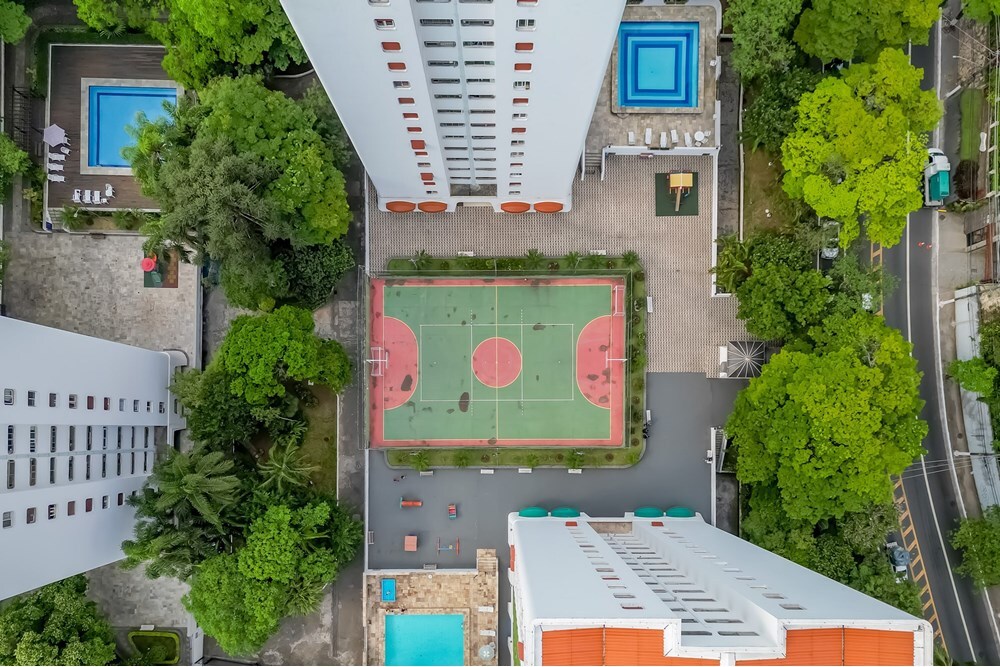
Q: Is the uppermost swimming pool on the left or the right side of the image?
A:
right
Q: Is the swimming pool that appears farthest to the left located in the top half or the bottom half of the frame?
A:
top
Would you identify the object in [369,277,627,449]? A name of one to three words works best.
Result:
sports court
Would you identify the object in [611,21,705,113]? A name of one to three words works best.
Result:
swimming pool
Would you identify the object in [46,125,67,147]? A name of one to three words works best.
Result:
umbrella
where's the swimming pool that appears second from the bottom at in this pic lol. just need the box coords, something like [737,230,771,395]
[381,578,396,601]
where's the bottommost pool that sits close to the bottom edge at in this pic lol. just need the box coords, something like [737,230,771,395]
[379,608,470,667]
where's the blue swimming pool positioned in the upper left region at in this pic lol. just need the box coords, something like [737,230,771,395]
[80,78,184,176]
